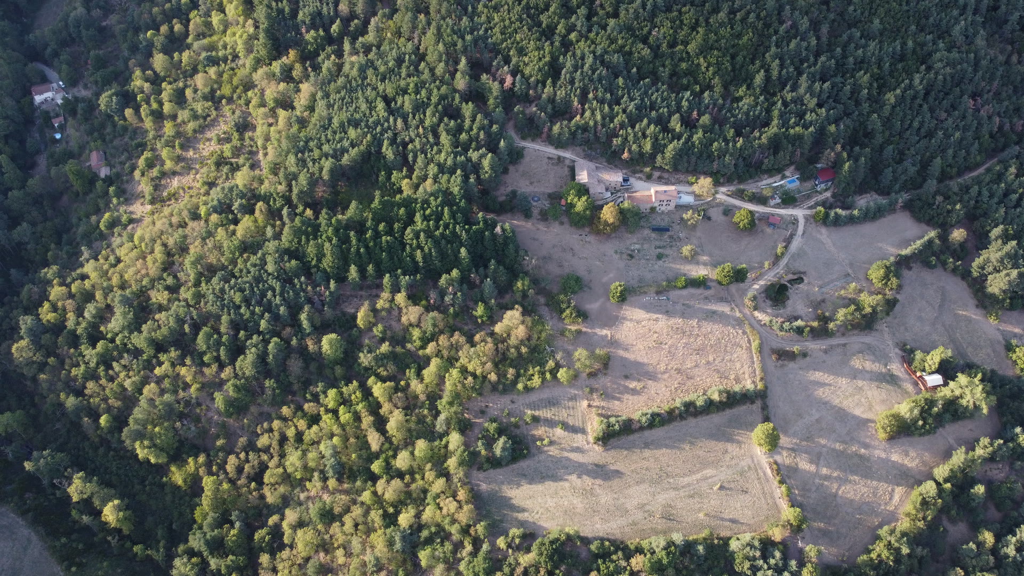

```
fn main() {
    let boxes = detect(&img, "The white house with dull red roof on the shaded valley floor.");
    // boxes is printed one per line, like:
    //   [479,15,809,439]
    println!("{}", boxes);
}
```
[32,88,66,111]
